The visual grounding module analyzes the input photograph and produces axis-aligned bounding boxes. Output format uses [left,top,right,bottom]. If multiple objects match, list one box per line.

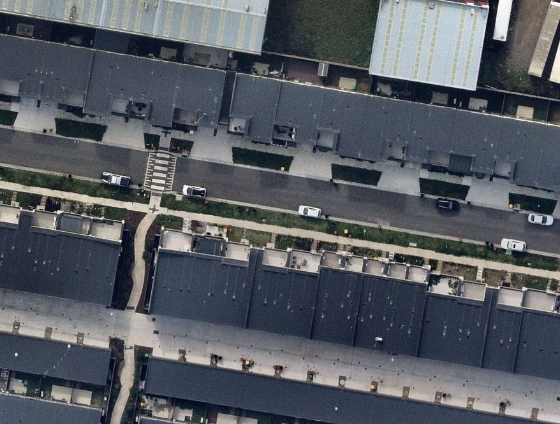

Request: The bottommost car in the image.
[501,239,526,252]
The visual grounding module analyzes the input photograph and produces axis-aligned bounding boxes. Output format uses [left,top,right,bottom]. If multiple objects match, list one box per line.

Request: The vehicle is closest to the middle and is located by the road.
[298,204,322,217]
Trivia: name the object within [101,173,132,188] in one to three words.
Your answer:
vehicle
